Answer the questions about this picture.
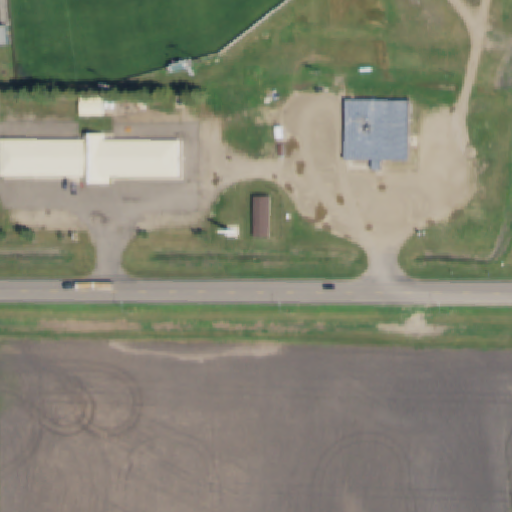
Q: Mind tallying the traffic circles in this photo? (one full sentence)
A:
The picture shows no traffic circles.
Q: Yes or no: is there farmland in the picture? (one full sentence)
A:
Yes, the picture does contain farmland.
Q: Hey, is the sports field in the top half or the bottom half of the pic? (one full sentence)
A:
Seen from above, the sports field lies in the top half of the view.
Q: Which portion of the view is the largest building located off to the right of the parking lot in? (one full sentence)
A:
You can find the largest building located off to the right of the parking lot in the top right area of the picture.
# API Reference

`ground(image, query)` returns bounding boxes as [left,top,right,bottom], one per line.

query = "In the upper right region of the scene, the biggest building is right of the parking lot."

[344,98,410,169]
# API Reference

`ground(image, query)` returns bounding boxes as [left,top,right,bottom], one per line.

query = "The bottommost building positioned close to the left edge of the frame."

[0,133,183,186]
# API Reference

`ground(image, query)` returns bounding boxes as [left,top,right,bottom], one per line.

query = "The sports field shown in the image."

[10,0,288,82]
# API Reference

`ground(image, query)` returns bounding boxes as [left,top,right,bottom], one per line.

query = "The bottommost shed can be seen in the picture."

[254,199,270,240]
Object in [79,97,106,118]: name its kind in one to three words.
shed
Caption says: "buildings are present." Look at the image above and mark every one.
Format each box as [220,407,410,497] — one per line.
[79,97,106,118]
[344,98,410,169]
[0,133,183,186]
[254,199,270,240]
[0,26,10,46]
[274,125,284,141]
